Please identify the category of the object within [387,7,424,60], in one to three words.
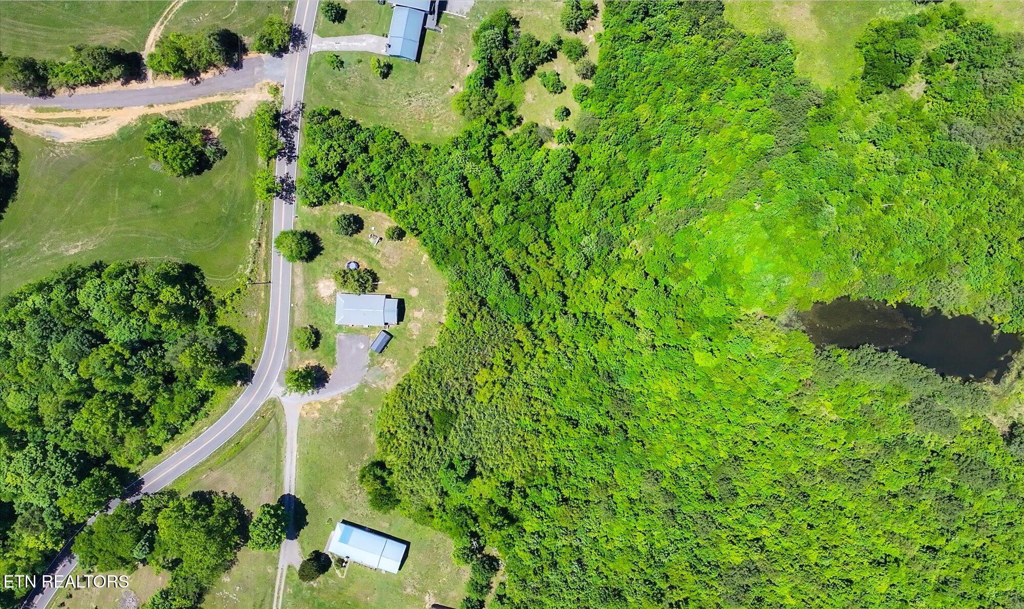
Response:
building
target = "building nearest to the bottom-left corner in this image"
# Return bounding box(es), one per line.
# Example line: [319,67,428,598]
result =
[329,522,406,574]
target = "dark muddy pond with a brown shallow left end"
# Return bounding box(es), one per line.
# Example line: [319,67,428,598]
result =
[794,296,1021,381]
